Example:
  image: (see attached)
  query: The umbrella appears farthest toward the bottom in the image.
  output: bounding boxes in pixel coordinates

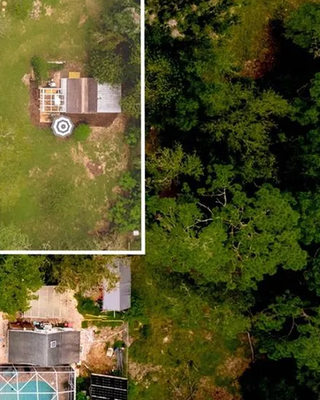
[50,116,71,137]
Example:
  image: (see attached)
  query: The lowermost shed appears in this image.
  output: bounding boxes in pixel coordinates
[7,325,80,370]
